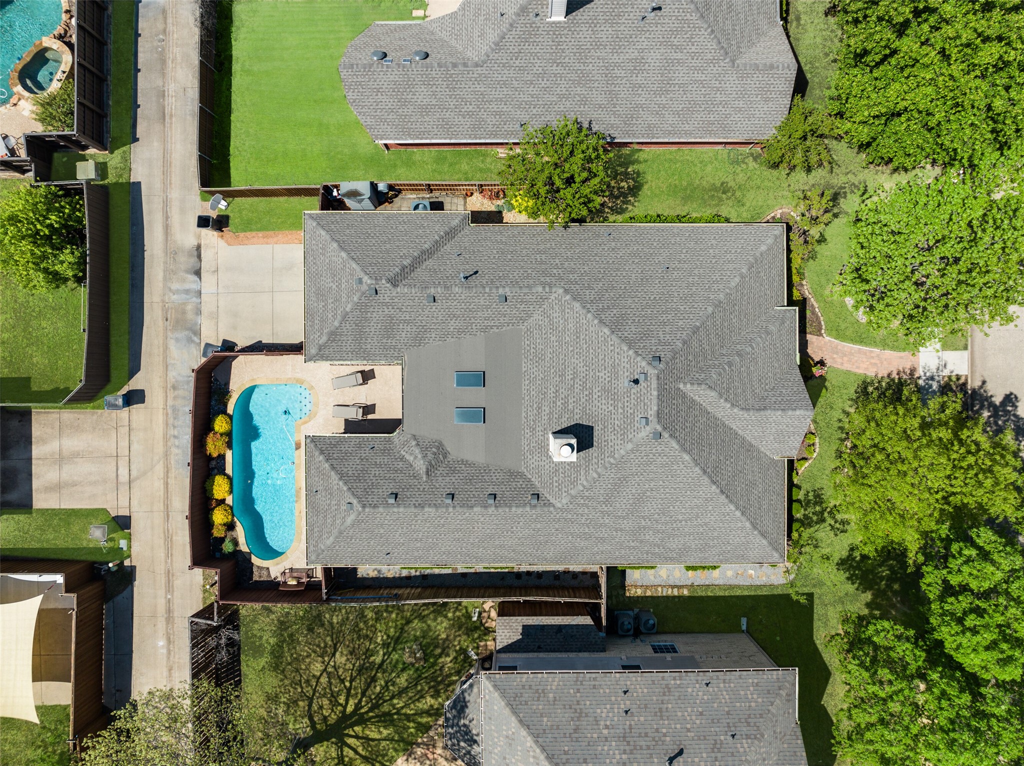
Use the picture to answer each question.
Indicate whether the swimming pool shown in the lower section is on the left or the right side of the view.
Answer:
left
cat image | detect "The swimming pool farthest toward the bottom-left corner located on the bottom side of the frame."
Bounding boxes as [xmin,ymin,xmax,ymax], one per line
[226,377,319,567]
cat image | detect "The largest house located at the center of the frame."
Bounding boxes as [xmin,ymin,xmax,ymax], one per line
[302,210,815,567]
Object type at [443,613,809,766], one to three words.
house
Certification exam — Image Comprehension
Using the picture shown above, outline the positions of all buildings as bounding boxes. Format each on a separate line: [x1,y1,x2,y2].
[443,613,809,766]
[340,0,797,152]
[302,210,815,567]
